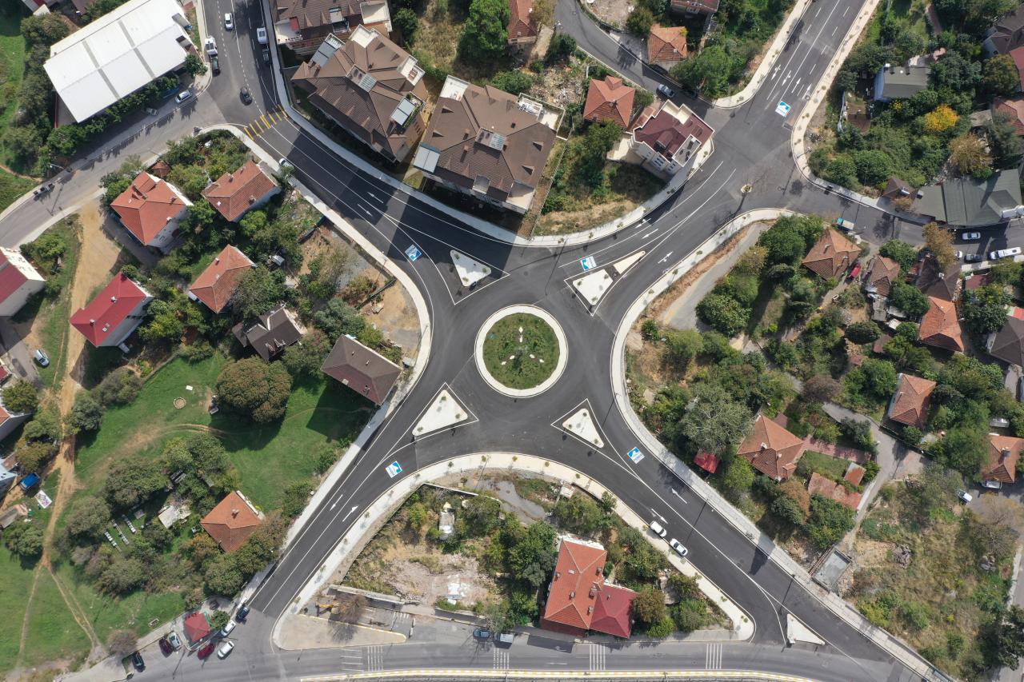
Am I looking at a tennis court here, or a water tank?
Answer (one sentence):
Looking from above, you can make out a water tank.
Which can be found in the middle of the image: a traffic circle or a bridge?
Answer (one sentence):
There is a traffic circle in the middle of the image.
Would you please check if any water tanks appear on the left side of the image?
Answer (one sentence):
No, the scene shows no water tank on the left side of the image.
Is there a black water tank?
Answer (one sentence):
No, this view has no black water tank in it.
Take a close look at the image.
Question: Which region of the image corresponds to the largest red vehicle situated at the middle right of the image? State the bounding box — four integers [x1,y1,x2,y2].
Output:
[848,262,863,280]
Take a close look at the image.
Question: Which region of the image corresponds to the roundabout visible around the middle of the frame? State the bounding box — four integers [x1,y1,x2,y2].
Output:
[473,304,569,399]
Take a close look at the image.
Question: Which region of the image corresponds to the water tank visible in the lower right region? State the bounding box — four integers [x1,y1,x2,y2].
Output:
[817,550,854,591]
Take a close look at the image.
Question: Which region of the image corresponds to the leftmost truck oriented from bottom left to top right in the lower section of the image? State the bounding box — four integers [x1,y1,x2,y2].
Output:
[12,473,40,494]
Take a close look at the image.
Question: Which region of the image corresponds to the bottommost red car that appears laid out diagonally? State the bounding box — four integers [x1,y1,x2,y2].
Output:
[195,643,214,659]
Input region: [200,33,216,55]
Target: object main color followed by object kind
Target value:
white vehicle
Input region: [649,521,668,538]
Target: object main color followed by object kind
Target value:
white car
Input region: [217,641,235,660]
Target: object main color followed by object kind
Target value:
white vehicle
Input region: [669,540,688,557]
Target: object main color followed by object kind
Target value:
white car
